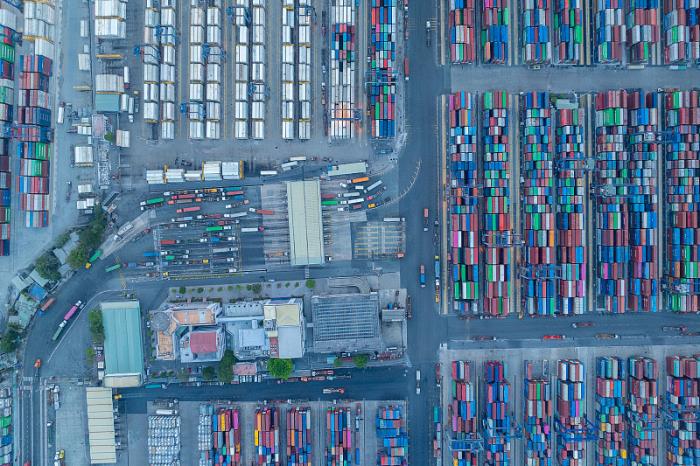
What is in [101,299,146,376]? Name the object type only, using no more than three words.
building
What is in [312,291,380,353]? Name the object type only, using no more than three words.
building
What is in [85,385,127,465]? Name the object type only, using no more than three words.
shed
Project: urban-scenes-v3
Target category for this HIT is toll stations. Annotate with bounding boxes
[282,180,332,266]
